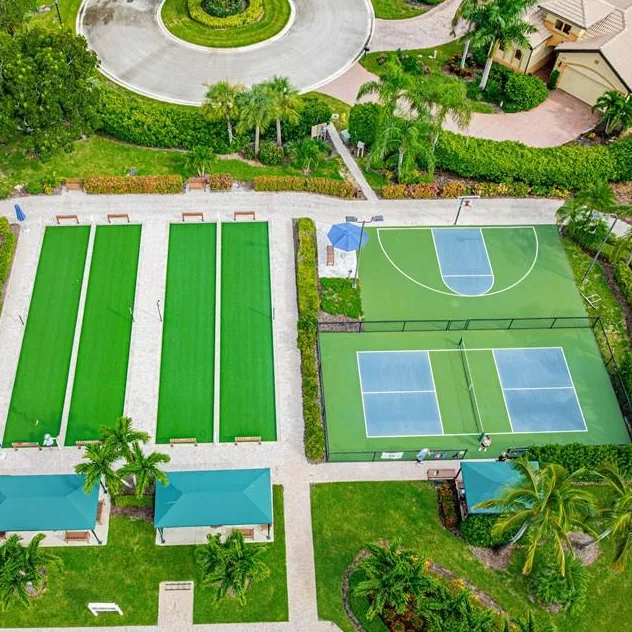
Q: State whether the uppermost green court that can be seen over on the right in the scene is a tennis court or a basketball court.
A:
basketball court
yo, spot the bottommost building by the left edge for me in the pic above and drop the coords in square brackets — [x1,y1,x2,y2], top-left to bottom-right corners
[0,473,107,549]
